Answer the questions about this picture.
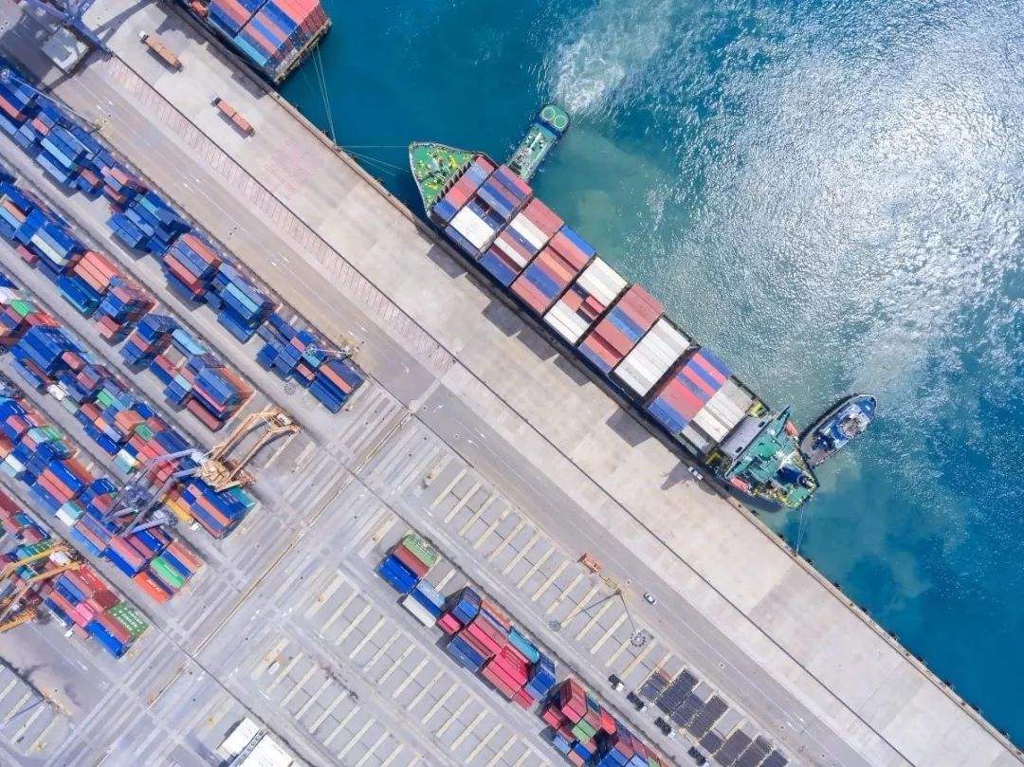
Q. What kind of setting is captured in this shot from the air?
port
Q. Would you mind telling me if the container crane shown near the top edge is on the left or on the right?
left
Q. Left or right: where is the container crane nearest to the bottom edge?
left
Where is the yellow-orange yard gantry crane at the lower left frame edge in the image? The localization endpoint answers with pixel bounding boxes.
[0,543,78,637]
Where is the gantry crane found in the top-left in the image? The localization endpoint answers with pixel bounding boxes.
[40,0,120,59]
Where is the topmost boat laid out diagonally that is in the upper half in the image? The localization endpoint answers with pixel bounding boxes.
[500,99,566,185]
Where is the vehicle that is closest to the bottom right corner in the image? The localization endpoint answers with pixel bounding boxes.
[688,747,712,767]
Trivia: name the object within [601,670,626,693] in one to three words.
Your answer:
truck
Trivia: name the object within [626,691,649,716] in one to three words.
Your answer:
truck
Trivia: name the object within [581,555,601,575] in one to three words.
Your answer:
vehicle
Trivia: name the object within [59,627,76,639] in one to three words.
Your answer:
vehicle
